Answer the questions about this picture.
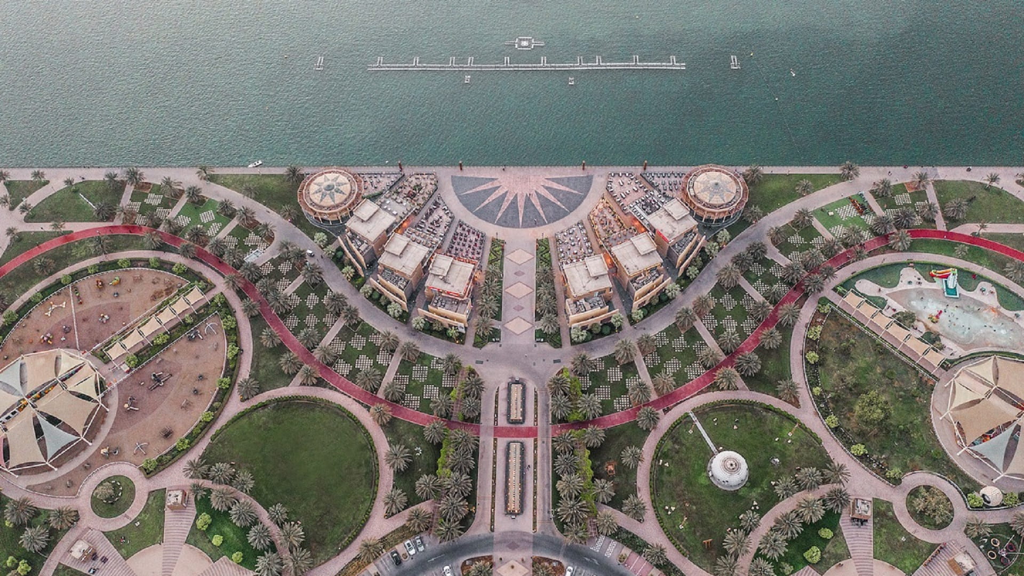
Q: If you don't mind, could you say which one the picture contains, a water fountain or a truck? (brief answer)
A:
water fountain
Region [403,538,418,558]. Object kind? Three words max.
car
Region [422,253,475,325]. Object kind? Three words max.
building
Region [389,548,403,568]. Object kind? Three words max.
car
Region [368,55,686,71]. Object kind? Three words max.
pier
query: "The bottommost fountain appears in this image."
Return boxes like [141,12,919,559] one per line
[504,441,524,513]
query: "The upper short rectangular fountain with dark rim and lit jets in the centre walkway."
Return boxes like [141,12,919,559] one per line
[507,381,526,423]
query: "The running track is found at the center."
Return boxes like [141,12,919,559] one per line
[0,224,1024,438]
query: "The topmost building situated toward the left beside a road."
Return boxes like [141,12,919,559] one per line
[298,166,365,230]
